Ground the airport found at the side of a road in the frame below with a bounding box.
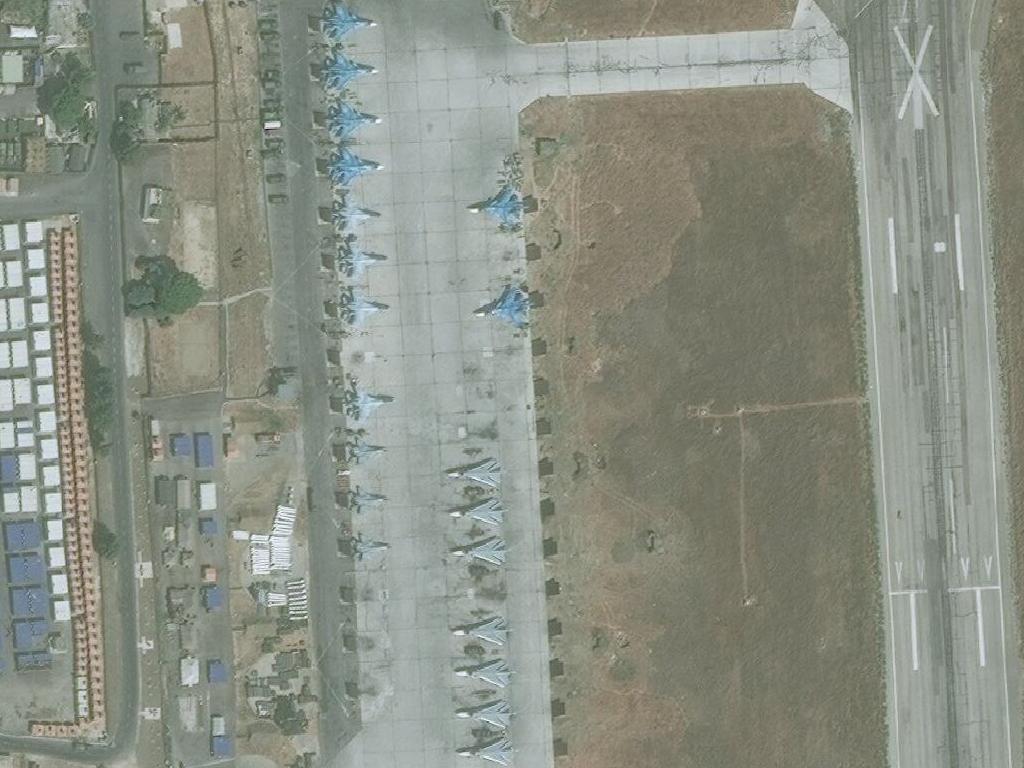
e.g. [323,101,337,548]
[257,0,1023,768]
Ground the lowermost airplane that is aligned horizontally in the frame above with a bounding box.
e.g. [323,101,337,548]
[457,740,513,766]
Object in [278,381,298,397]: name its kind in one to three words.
building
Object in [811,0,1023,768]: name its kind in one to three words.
runway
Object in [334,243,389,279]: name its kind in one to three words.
airplane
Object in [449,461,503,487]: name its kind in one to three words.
airplane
